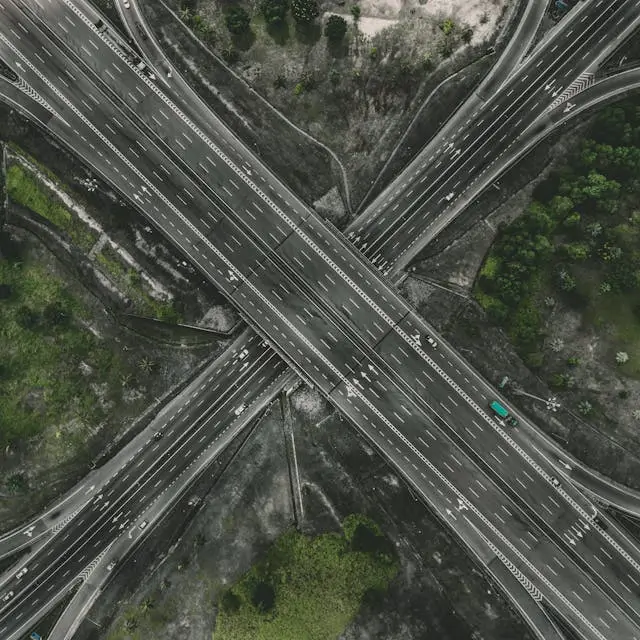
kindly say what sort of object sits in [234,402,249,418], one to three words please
vehicle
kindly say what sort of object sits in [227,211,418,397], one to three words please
overpass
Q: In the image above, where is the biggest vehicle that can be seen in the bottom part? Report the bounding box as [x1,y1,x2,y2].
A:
[488,399,520,428]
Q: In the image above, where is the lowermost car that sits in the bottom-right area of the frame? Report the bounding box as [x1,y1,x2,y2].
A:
[595,518,609,532]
